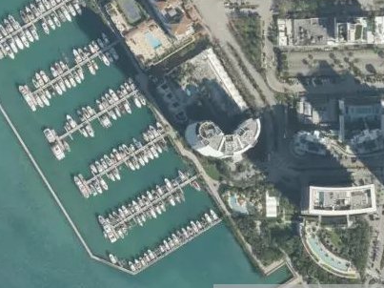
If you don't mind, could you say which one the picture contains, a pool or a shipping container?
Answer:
pool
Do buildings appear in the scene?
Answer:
Yes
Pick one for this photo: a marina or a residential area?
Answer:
marina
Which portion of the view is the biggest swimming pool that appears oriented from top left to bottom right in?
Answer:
bottom right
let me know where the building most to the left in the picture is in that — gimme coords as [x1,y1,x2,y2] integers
[107,0,144,32]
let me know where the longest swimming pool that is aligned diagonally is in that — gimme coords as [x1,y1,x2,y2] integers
[306,232,352,273]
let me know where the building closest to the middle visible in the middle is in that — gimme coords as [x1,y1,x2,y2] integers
[185,121,224,154]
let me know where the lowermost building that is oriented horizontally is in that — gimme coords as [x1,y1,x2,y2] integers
[303,183,377,218]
